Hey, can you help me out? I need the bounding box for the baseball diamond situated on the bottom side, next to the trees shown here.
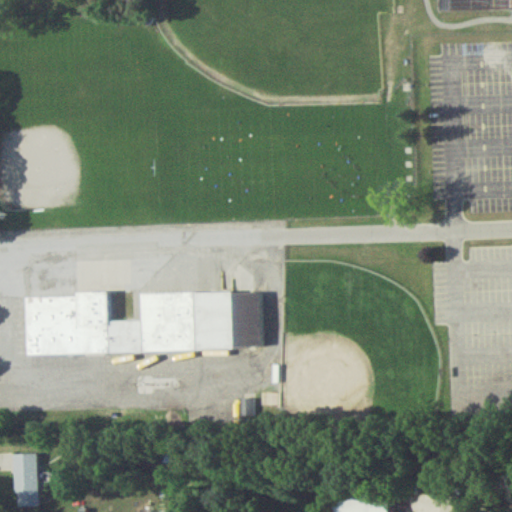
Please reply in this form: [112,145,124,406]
[282,259,442,420]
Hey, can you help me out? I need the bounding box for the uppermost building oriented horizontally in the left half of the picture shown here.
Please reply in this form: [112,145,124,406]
[25,292,266,356]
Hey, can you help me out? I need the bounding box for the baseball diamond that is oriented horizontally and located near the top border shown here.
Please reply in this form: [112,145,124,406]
[151,0,392,106]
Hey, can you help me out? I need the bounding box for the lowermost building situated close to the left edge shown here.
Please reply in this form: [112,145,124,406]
[12,453,40,507]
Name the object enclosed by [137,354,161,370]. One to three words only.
vehicle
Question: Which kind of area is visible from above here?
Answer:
sports ground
